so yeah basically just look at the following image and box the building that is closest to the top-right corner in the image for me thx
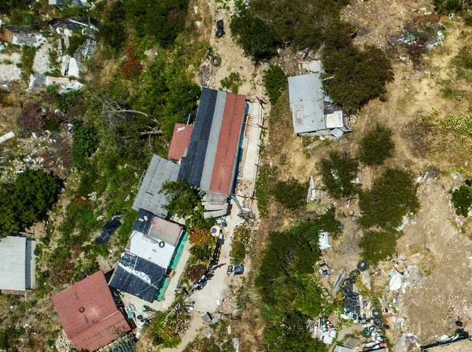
[287,72,343,141]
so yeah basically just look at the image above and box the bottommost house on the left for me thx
[52,269,144,352]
